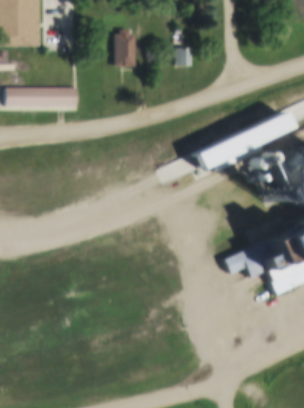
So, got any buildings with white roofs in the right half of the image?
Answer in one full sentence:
Yes, in the right half of the image there is a building with a white roof.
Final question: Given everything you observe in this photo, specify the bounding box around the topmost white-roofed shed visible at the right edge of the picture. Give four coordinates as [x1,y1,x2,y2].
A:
[191,112,299,171]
